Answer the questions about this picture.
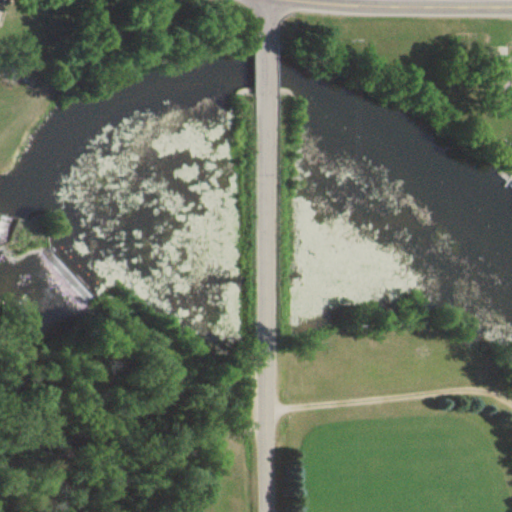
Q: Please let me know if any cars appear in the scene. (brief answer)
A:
No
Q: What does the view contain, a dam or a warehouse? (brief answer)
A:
dam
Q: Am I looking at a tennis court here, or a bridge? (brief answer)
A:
bridge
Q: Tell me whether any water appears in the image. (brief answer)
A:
Yes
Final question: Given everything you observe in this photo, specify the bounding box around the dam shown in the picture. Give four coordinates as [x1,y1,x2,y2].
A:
[44,240,96,303]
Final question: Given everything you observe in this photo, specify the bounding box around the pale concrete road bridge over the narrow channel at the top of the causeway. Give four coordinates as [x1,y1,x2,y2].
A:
[235,52,295,102]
